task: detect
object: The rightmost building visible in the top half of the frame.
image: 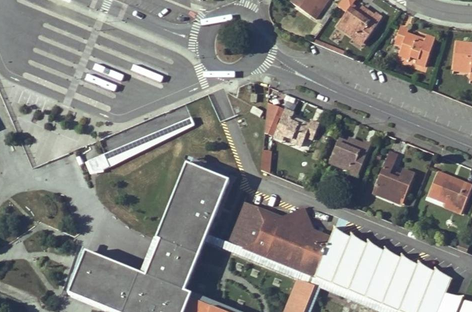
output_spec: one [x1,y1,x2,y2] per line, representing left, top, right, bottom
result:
[451,41,472,80]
